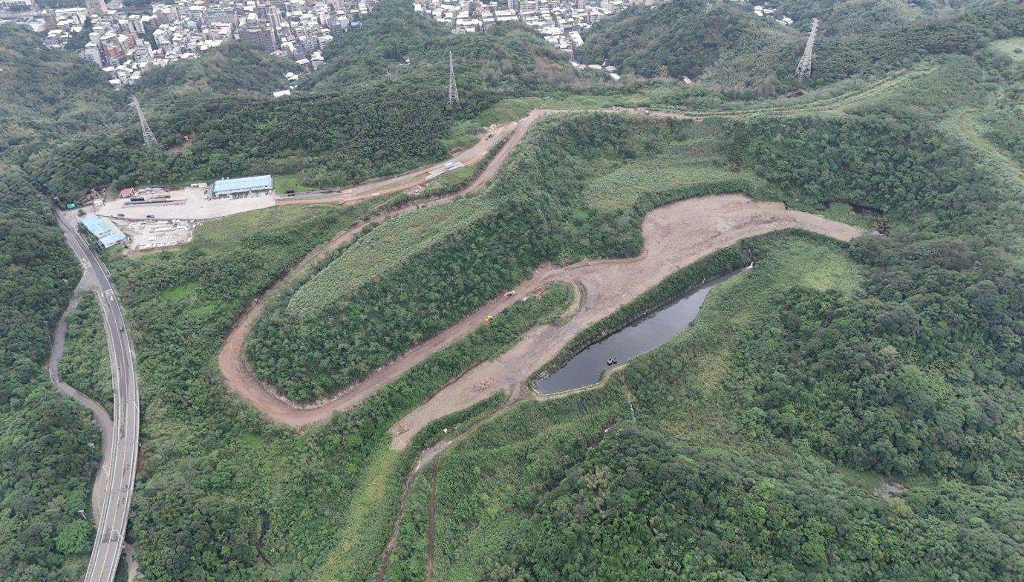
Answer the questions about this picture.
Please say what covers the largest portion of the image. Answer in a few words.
trees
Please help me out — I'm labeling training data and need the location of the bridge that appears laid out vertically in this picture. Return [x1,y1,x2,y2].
[79,241,144,582]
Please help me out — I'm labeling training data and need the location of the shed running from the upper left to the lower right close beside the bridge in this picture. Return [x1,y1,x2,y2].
[79,212,128,249]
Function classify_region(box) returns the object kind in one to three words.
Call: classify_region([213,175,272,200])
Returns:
shed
